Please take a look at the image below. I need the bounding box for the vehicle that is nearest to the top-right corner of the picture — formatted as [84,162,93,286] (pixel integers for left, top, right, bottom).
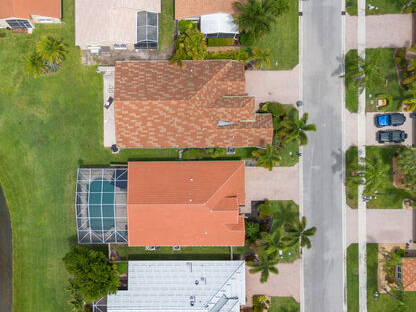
[375,112,404,126]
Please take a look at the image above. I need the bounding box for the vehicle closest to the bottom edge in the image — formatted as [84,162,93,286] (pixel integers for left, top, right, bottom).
[375,129,408,143]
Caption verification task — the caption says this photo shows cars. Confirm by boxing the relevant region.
[375,129,408,143]
[375,112,404,126]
